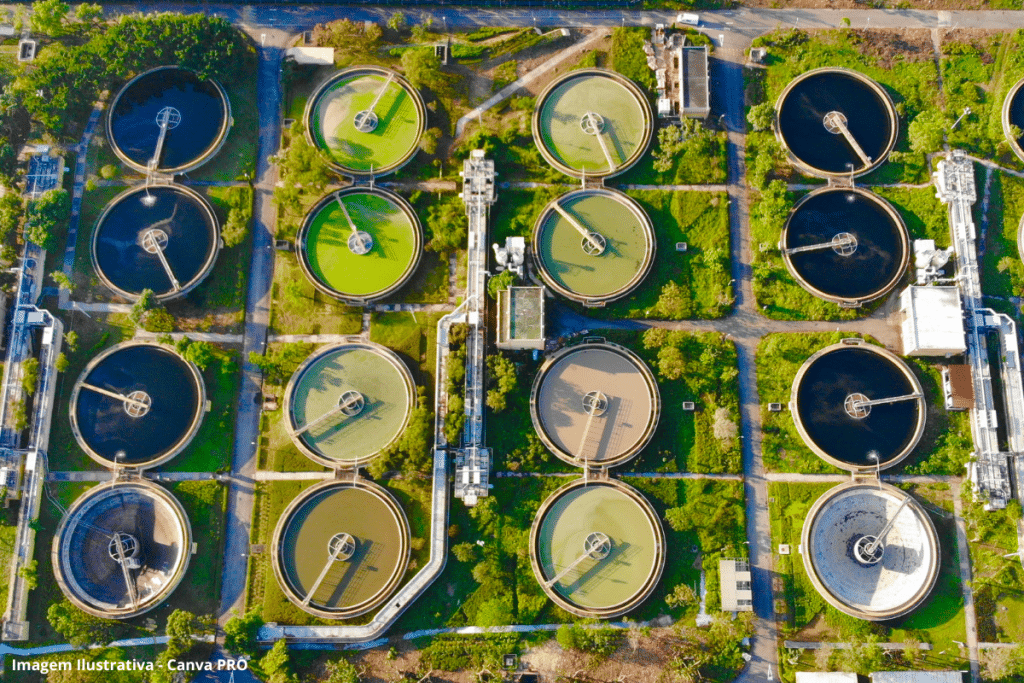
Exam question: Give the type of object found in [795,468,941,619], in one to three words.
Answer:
storage tank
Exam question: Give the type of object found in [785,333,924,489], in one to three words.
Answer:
storage tank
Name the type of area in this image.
industrial area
